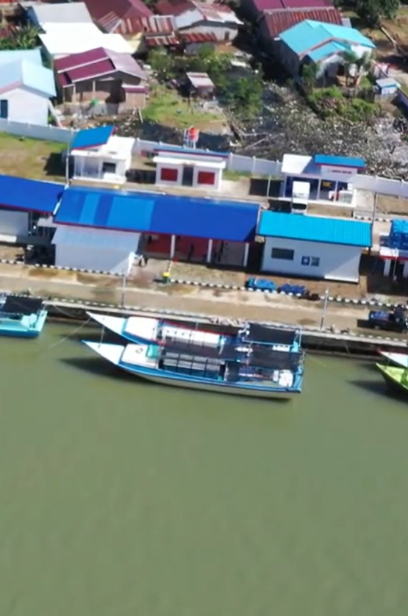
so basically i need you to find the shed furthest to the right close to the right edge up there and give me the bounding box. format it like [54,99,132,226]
[369,77,399,100]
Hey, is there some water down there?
Yes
